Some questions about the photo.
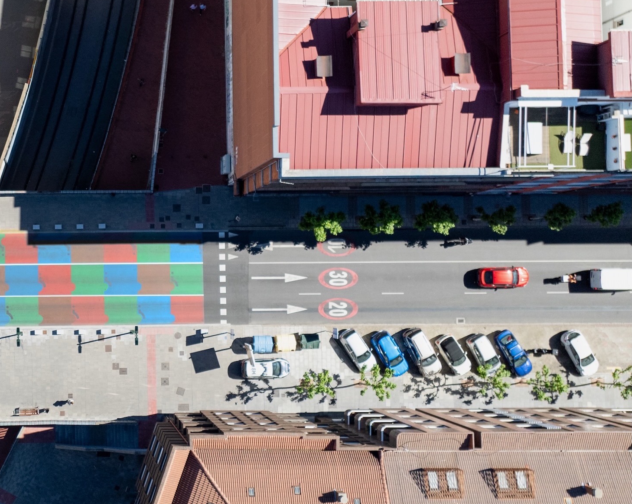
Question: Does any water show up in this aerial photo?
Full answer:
No, no water is visible.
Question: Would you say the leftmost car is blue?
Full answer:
No, the leftmost car is actually white.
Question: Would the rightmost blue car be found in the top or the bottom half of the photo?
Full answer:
You can find the rightmost blue car in the bottom half.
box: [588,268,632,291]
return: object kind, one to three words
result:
vehicle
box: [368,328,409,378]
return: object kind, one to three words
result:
car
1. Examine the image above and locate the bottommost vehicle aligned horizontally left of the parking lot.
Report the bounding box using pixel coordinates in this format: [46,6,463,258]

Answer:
[238,356,292,383]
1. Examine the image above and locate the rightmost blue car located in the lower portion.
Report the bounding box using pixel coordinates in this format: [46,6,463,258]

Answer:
[492,326,532,378]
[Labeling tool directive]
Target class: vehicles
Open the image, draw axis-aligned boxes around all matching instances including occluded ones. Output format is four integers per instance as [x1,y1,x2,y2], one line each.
[339,325,381,377]
[446,239,462,245]
[238,356,292,383]
[527,347,559,359]
[558,326,599,379]
[368,328,409,378]
[432,330,473,379]
[474,264,528,291]
[492,326,532,378]
[402,324,444,378]
[588,268,632,291]
[464,330,504,379]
